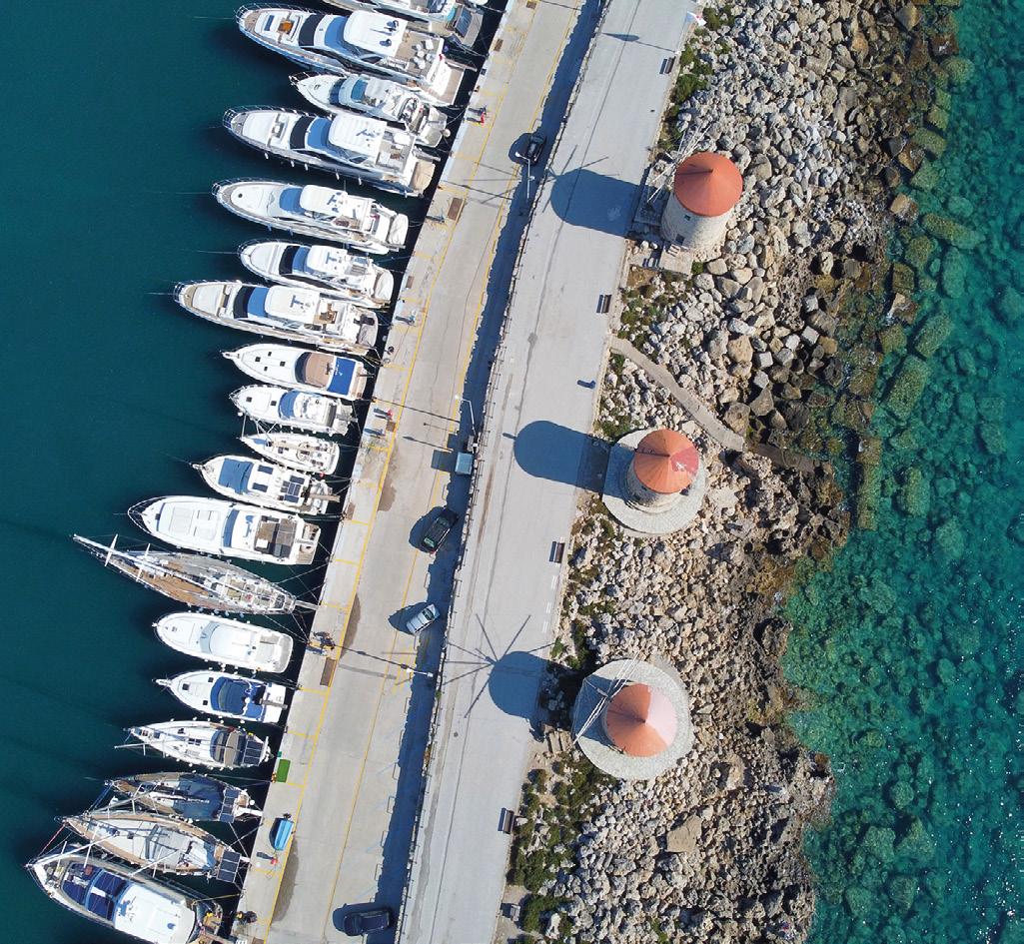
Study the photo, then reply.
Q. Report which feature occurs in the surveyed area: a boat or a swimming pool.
boat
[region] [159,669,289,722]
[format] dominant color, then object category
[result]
white boat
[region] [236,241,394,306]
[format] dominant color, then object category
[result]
white boat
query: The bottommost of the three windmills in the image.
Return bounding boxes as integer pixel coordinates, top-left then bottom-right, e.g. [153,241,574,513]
[577,649,679,759]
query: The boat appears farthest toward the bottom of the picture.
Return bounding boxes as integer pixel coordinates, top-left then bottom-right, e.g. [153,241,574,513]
[18,860,227,944]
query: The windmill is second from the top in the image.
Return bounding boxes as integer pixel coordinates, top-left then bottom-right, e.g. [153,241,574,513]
[617,430,700,517]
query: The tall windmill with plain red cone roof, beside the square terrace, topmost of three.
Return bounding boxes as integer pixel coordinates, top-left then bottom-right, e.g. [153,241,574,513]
[650,120,744,253]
